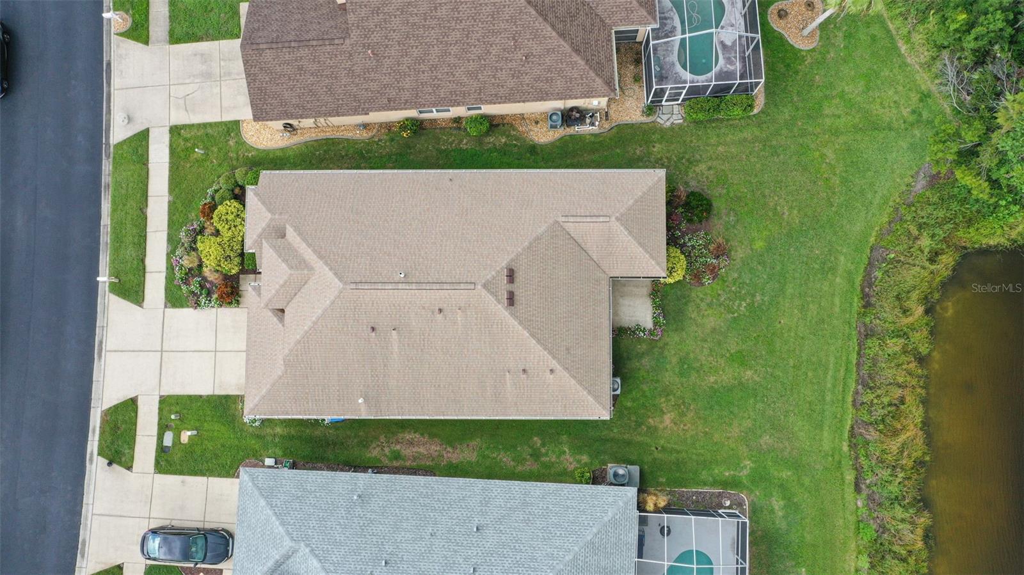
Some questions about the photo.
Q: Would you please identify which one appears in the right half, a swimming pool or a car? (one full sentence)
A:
What appears in the right half is a swimming pool.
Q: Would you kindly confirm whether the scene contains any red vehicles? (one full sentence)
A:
No, there is no red vehicle in the image.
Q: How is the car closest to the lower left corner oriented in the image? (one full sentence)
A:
The car closest to the lower left corner runs from side to side in the image.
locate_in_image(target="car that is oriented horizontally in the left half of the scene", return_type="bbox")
[139,523,235,569]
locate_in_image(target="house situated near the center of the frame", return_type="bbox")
[242,167,666,421]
